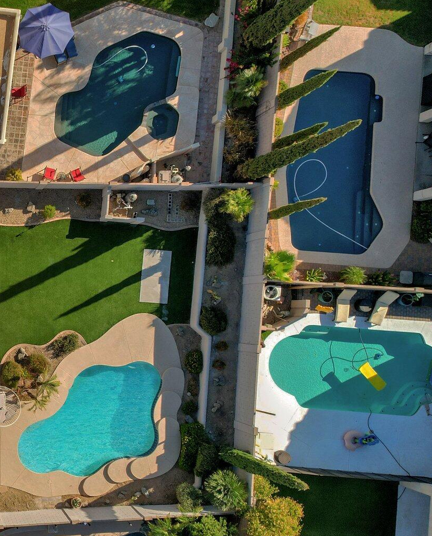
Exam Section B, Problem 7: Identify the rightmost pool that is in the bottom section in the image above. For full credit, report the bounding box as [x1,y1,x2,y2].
[267,324,432,417]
